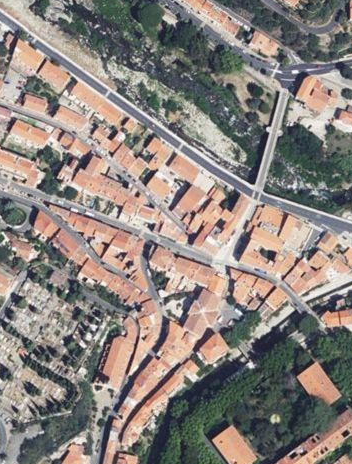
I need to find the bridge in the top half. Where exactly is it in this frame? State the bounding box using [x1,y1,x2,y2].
[253,87,289,197]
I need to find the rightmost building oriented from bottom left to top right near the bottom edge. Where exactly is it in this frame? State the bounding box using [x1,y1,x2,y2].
[275,407,352,464]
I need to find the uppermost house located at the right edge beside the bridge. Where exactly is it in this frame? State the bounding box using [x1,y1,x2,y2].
[292,75,336,118]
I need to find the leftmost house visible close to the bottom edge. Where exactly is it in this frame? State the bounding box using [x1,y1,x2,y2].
[59,437,91,464]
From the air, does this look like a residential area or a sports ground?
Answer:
residential area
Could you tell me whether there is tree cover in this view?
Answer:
Yes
